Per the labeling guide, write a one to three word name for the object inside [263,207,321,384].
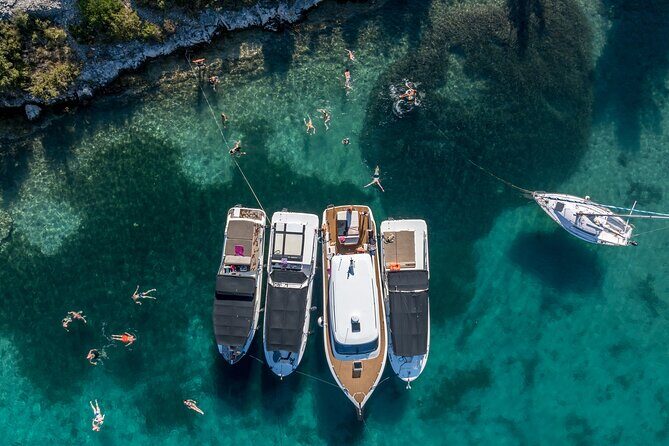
boat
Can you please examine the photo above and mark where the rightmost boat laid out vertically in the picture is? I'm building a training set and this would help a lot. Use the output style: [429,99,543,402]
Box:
[381,215,429,392]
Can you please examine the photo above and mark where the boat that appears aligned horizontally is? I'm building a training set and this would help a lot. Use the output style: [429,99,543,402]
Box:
[535,195,669,247]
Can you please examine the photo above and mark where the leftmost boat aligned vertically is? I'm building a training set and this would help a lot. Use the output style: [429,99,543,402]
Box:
[214,204,267,366]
